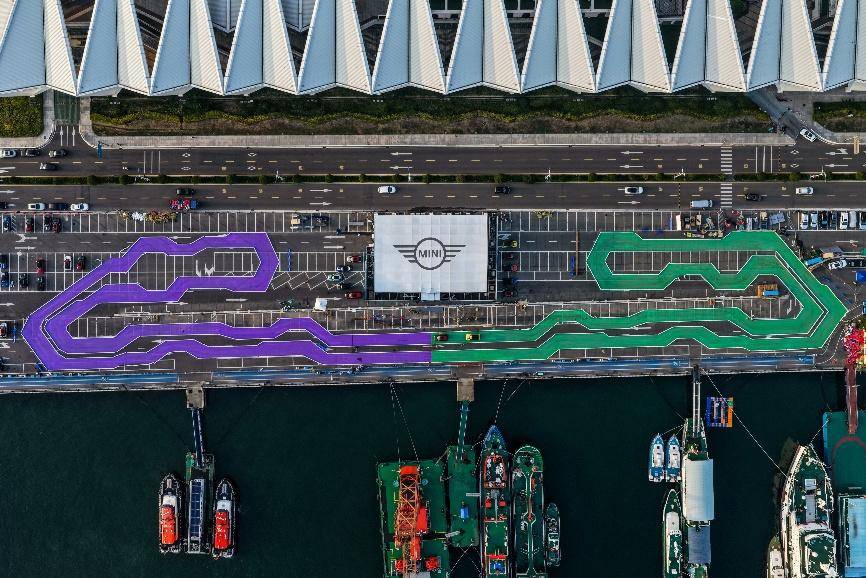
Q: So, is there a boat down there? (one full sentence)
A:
Yes, I can see a boat in this picture.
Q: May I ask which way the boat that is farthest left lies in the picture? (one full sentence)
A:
From this overhead view, the boat that is farthest left appears to run vertically.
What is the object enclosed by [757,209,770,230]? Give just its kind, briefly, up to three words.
vehicle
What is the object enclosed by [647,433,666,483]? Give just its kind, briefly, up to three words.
boat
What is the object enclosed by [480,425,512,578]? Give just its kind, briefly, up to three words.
ship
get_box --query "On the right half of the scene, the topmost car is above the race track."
[798,127,818,143]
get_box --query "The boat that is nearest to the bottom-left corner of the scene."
[158,474,184,554]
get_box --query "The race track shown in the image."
[21,231,847,370]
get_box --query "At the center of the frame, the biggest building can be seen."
[365,212,497,300]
